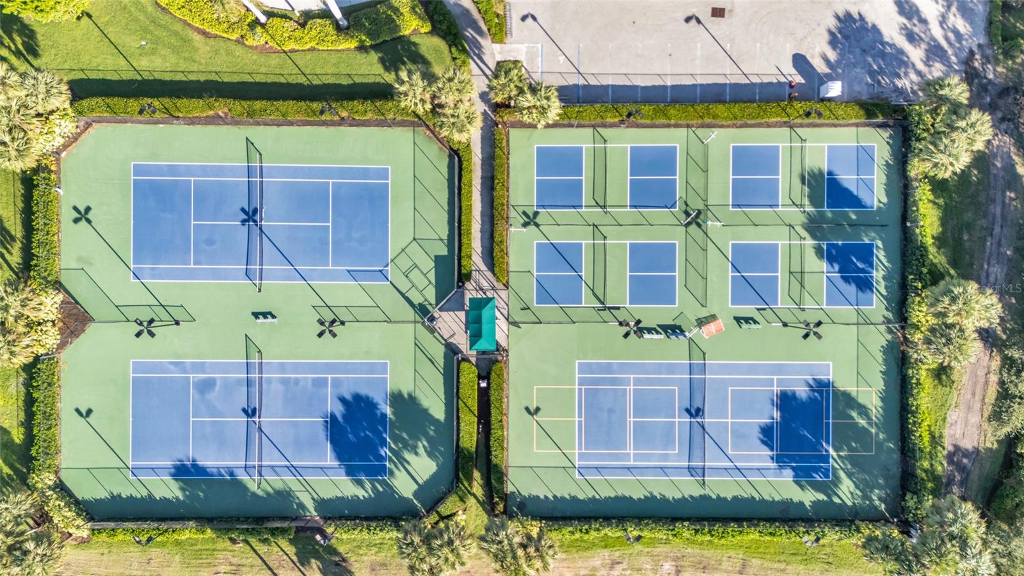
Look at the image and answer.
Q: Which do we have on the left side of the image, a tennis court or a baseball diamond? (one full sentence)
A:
What appears on the left side of the image is a tennis court.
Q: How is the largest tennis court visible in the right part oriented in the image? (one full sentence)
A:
From this overhead view, the largest tennis court visible in the right part appears to run horizontally.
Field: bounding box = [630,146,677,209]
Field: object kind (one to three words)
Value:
sports court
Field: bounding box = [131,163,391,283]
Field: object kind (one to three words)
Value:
tennis court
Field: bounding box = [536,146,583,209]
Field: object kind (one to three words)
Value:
sports court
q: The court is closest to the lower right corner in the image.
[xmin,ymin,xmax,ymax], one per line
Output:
[730,388,874,454]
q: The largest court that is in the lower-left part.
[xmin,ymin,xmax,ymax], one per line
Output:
[131,360,388,478]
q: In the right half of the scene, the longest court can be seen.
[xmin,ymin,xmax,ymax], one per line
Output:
[577,361,832,479]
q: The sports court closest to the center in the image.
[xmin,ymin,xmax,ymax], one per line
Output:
[536,243,583,305]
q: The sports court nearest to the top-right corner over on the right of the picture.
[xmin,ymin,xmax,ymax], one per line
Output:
[827,146,875,208]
